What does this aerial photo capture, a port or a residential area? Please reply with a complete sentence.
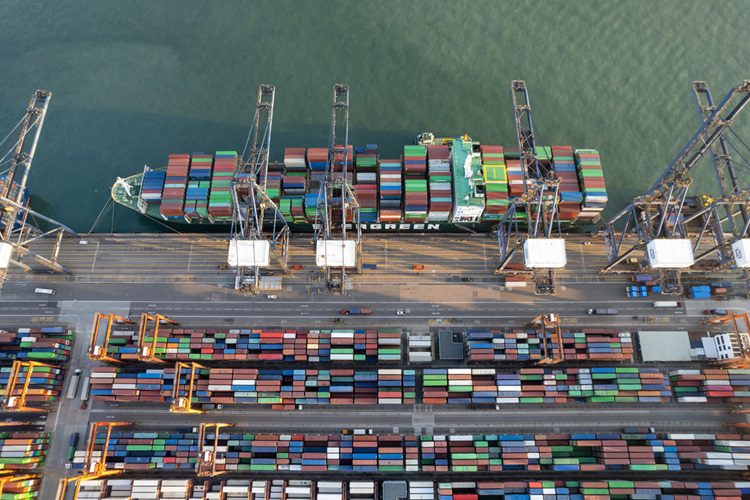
The picture captures a port.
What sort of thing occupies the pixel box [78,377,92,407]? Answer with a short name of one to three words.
vehicle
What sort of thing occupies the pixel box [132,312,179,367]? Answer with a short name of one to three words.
container crane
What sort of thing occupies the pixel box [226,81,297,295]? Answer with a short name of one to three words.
container crane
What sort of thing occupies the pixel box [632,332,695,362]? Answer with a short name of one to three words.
building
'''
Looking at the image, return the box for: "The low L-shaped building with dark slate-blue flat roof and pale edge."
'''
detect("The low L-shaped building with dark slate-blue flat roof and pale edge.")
[437,329,464,360]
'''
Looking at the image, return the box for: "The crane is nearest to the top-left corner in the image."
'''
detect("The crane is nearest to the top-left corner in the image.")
[0,86,83,277]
